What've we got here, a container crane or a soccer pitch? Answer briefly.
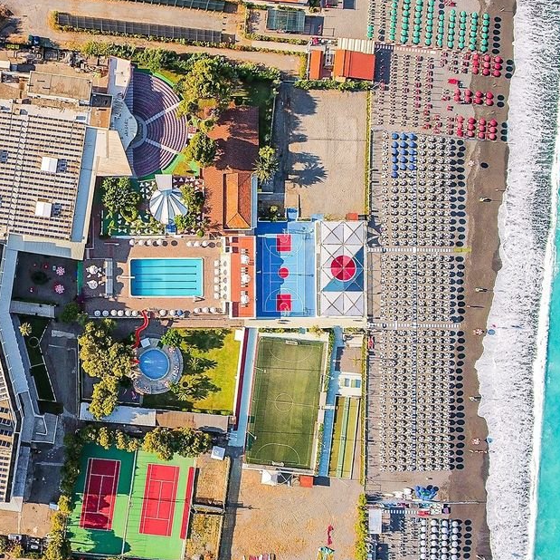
soccer pitch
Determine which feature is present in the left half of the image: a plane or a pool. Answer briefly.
pool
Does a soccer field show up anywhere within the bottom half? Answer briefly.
Yes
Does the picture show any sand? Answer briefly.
Yes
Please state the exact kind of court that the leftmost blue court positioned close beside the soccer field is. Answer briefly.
basketball court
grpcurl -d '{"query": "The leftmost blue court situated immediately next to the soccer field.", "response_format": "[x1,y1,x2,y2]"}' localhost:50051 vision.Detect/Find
[258,223,315,317]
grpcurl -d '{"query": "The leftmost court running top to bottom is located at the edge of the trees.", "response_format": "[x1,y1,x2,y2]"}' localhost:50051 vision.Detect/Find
[80,457,121,530]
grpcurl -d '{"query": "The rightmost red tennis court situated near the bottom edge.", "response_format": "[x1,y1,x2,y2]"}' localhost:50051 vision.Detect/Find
[139,463,180,537]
